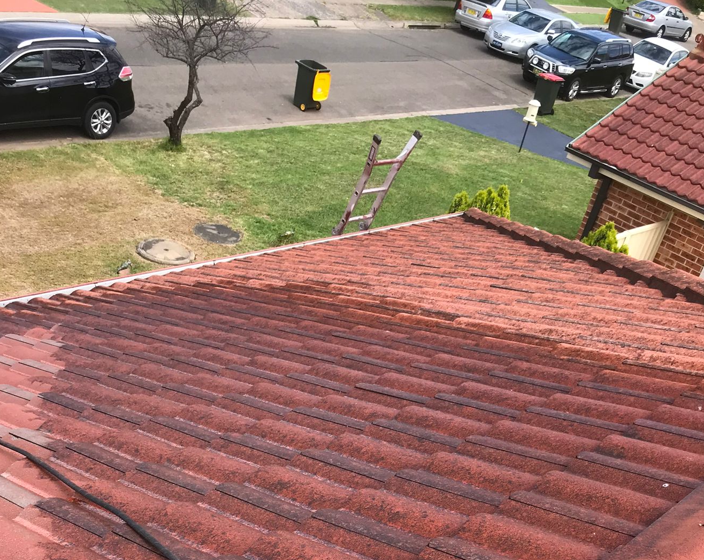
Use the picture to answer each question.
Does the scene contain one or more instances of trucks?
No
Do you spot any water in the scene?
No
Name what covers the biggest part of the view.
buildings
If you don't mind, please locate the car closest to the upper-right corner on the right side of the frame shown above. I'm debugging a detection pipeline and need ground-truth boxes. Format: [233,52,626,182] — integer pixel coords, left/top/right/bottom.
[629,0,692,40]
